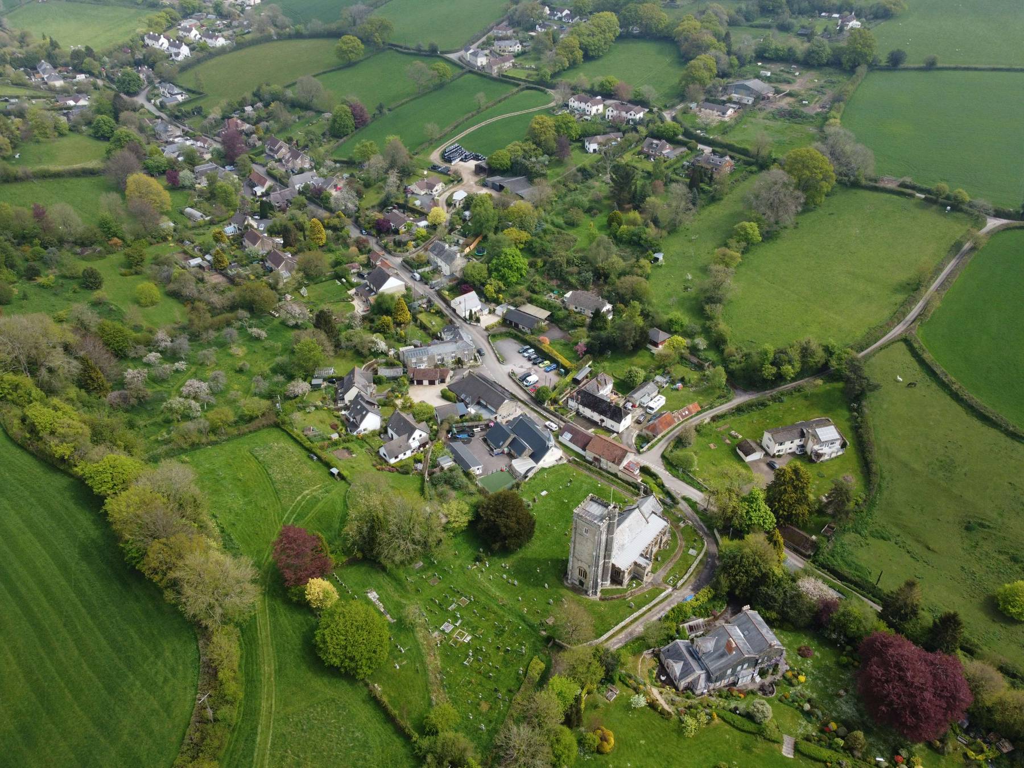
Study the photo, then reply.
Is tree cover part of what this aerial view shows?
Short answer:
Yes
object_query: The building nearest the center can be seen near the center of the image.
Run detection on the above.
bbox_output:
[457,372,522,429]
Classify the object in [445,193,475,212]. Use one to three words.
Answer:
shed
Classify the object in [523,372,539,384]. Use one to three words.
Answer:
vehicle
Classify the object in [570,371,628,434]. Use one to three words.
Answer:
house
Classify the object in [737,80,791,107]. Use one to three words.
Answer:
barn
